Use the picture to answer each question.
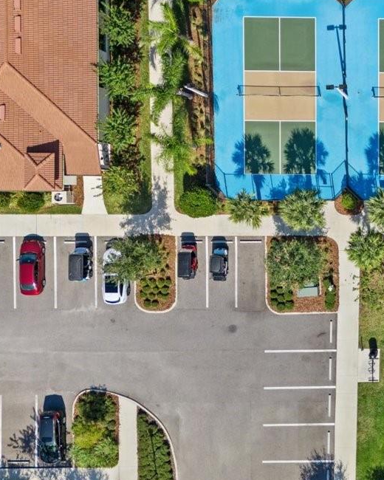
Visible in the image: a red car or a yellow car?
red car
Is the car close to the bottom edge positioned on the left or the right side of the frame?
left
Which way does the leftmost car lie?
up and down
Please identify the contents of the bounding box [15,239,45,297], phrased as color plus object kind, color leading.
red car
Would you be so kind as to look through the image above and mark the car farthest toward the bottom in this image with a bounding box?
[35,411,66,467]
